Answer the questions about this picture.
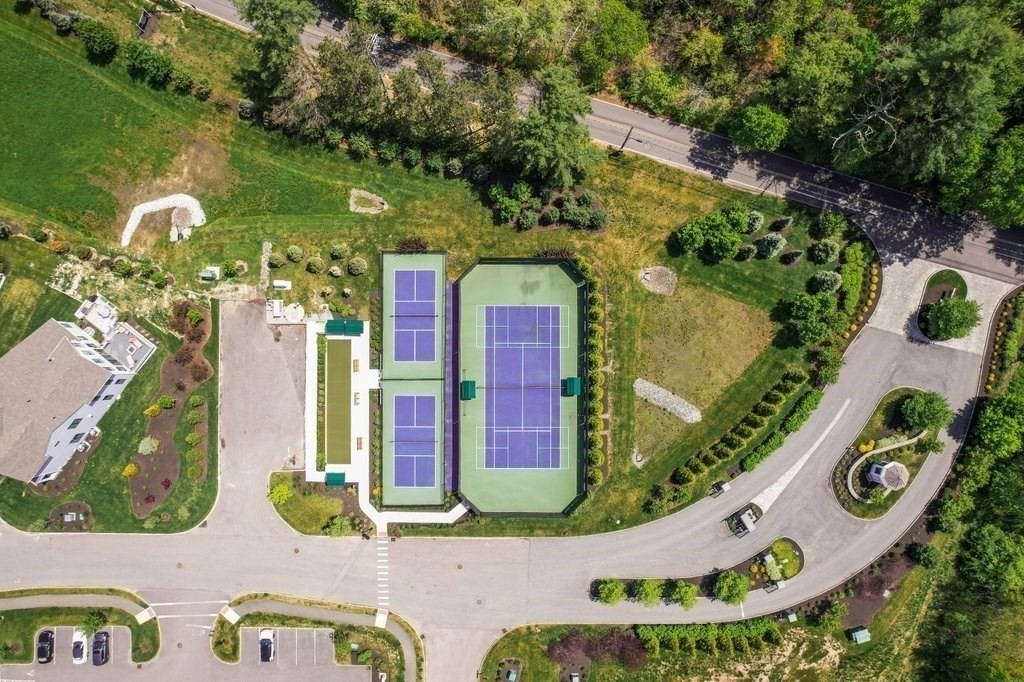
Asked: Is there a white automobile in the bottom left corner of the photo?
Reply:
Yes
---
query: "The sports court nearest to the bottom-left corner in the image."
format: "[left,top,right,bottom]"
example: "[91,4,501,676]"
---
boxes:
[382,380,445,505]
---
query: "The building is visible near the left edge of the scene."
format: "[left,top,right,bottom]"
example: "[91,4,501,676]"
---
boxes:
[0,318,156,485]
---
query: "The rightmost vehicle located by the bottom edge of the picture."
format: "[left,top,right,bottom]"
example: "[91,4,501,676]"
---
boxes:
[258,628,275,662]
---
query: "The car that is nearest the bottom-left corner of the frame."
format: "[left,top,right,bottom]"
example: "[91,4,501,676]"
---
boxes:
[37,629,56,664]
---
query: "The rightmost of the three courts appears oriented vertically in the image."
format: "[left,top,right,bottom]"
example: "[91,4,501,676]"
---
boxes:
[460,259,586,514]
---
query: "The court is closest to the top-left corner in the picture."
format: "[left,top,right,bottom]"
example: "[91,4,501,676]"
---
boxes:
[382,252,445,379]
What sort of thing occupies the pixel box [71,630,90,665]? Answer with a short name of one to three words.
car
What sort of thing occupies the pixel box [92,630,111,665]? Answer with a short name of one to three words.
car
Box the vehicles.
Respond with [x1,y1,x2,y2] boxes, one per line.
[37,629,56,664]
[258,628,275,662]
[71,630,90,665]
[92,630,111,665]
